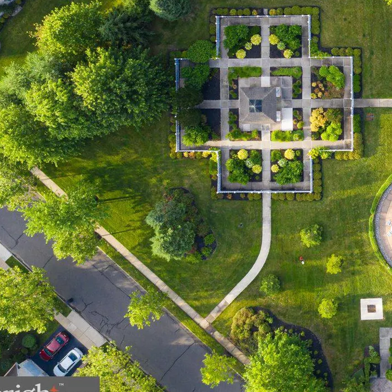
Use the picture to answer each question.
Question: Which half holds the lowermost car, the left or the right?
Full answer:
The lowermost car appears in the left half of the scene.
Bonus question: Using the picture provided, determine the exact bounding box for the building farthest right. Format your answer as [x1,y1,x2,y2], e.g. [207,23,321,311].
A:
[240,87,282,125]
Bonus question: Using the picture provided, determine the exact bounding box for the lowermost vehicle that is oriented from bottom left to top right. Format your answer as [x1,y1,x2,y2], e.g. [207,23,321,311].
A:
[53,347,84,378]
